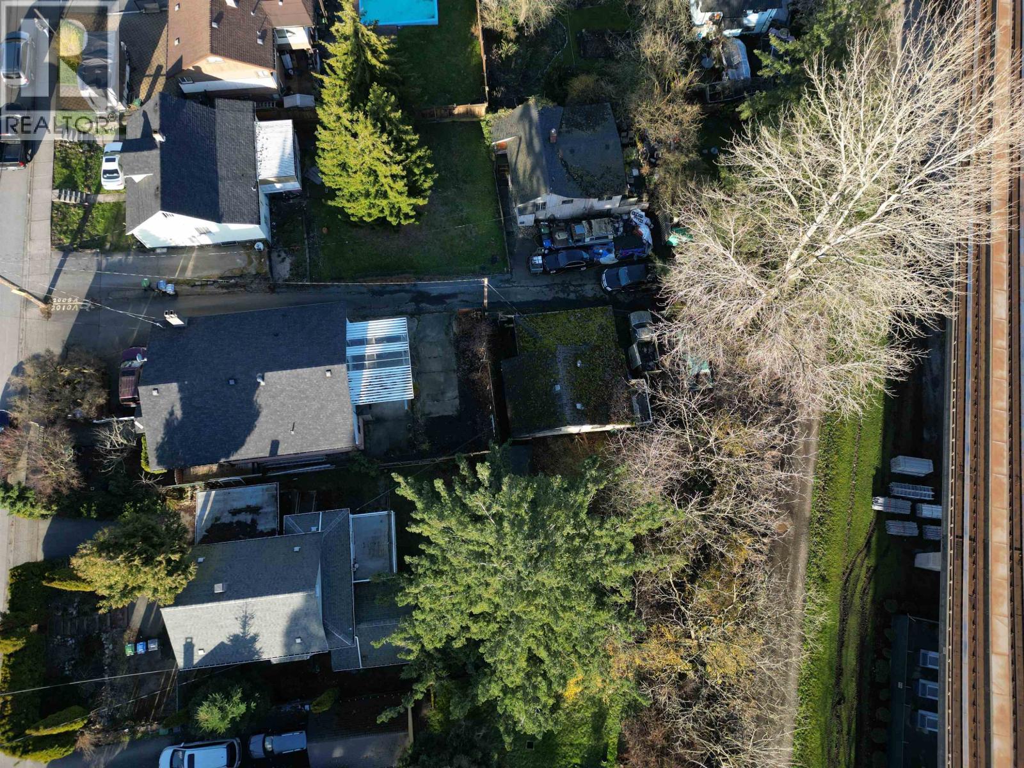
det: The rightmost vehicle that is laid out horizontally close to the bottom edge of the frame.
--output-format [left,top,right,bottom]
[242,726,309,763]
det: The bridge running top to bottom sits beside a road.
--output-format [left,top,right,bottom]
[928,0,1024,768]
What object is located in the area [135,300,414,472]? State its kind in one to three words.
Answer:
house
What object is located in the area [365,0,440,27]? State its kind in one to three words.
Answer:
swimming pool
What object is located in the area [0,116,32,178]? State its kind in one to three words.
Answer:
truck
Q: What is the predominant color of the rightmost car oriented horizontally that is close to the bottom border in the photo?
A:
blue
